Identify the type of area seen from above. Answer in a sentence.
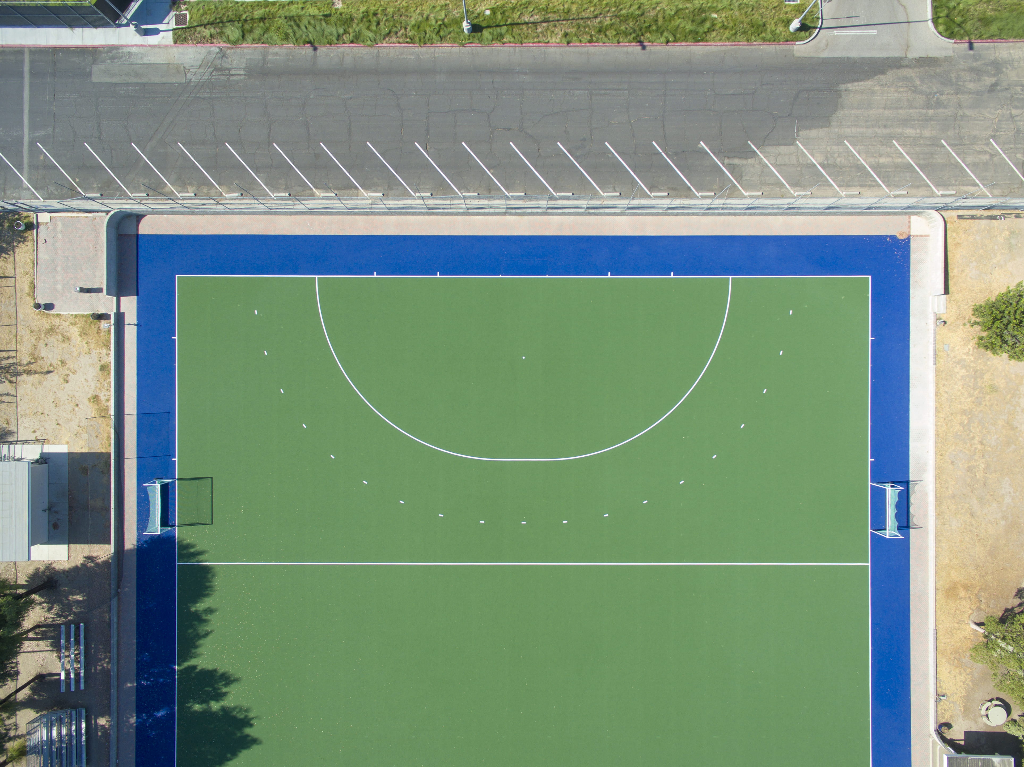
The picture captures a sports ground.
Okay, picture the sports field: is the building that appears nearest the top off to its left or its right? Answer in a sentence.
The building that appears nearest the top is to the left of the sports field.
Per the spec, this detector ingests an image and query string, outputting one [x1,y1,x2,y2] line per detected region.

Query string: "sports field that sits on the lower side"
[176,276,871,767]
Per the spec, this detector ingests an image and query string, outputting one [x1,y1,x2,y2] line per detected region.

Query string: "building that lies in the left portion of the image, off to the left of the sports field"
[0,461,48,561]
